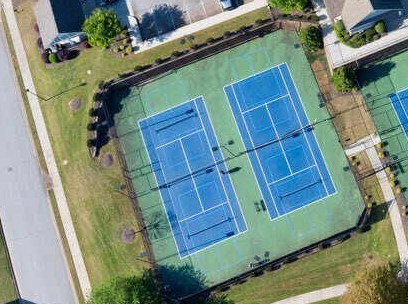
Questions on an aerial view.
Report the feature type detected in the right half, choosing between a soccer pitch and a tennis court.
tennis court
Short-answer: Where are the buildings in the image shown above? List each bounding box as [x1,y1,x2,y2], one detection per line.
[324,0,404,35]
[34,0,90,48]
